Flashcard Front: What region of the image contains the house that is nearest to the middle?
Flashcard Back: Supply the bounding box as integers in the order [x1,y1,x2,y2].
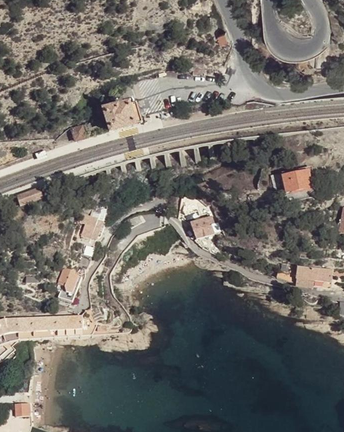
[185,212,222,242]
